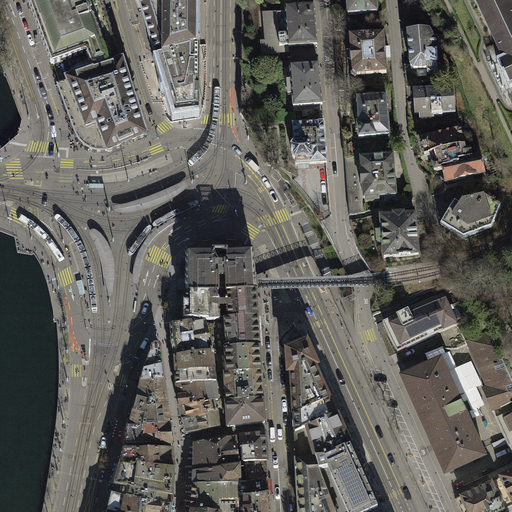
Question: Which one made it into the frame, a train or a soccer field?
train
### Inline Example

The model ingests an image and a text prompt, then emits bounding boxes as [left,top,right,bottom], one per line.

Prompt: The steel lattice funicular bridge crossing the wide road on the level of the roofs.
[256,272,386,292]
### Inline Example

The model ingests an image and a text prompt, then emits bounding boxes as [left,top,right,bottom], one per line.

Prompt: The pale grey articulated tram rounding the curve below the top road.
[189,86,220,167]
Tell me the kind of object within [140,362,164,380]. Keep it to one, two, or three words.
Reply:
building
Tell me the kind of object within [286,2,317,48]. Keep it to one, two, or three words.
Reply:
house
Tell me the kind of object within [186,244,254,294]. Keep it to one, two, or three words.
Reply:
building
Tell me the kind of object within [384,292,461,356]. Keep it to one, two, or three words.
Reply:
house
